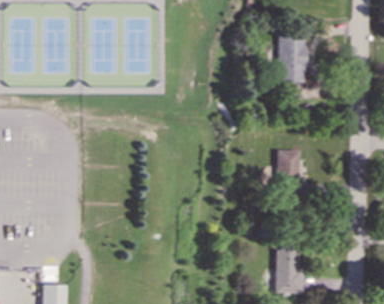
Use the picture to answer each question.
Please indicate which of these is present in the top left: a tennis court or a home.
tennis court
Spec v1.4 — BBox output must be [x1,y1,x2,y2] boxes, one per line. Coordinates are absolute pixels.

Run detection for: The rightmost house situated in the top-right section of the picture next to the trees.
[278,36,309,84]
